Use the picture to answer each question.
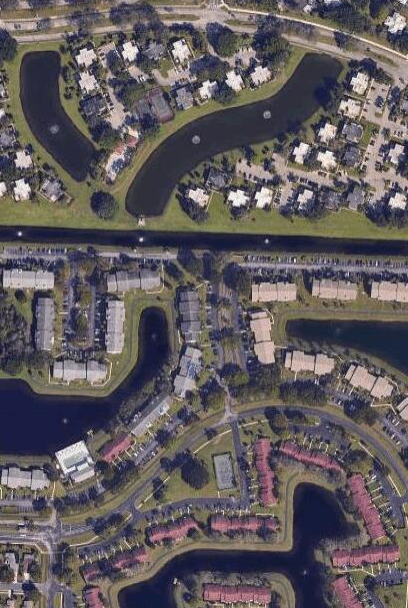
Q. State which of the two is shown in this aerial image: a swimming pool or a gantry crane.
swimming pool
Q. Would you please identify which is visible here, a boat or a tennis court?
tennis court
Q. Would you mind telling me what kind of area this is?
residential area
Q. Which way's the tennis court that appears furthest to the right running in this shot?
from top to bottom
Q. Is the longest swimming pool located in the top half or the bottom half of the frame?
top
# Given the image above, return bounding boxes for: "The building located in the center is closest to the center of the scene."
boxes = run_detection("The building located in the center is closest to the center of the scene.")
[179,292,203,343]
